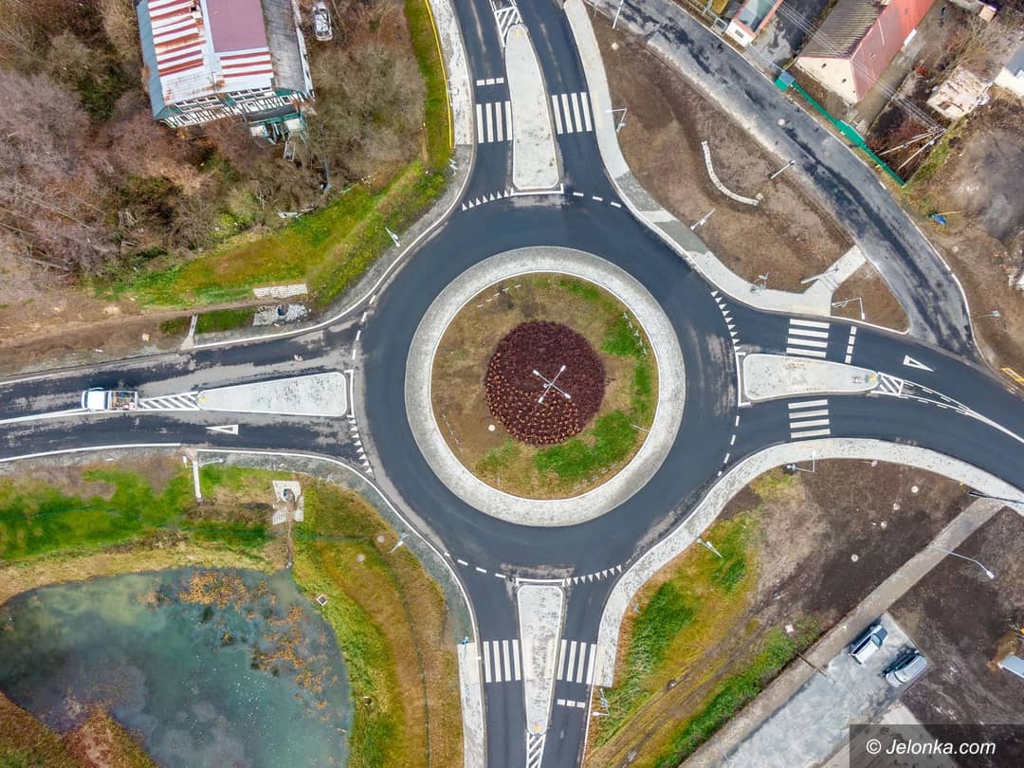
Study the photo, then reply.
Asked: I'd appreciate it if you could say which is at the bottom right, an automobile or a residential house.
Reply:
automobile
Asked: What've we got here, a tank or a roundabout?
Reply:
roundabout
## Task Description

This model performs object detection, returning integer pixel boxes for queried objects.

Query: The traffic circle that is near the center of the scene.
[344,184,751,587]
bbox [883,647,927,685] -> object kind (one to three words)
car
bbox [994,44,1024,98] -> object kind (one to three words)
house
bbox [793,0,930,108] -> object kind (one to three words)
house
